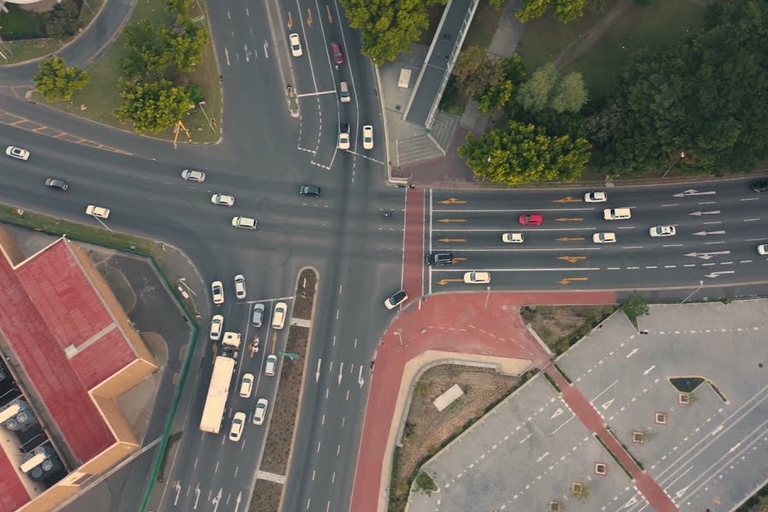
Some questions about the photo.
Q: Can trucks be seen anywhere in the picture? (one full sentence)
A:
Yes, a truck can be made out from above.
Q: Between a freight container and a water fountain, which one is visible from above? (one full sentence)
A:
There is a freight container in the scene.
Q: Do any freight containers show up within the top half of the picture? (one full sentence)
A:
No, I see no freight container within the top half of the picture.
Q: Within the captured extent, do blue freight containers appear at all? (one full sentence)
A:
No, the picture doesn't show any blue freight container.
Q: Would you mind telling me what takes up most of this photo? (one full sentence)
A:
The bulk of the photo consists of paved ground.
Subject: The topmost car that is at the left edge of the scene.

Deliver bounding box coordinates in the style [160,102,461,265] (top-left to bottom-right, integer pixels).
[5,146,32,162]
